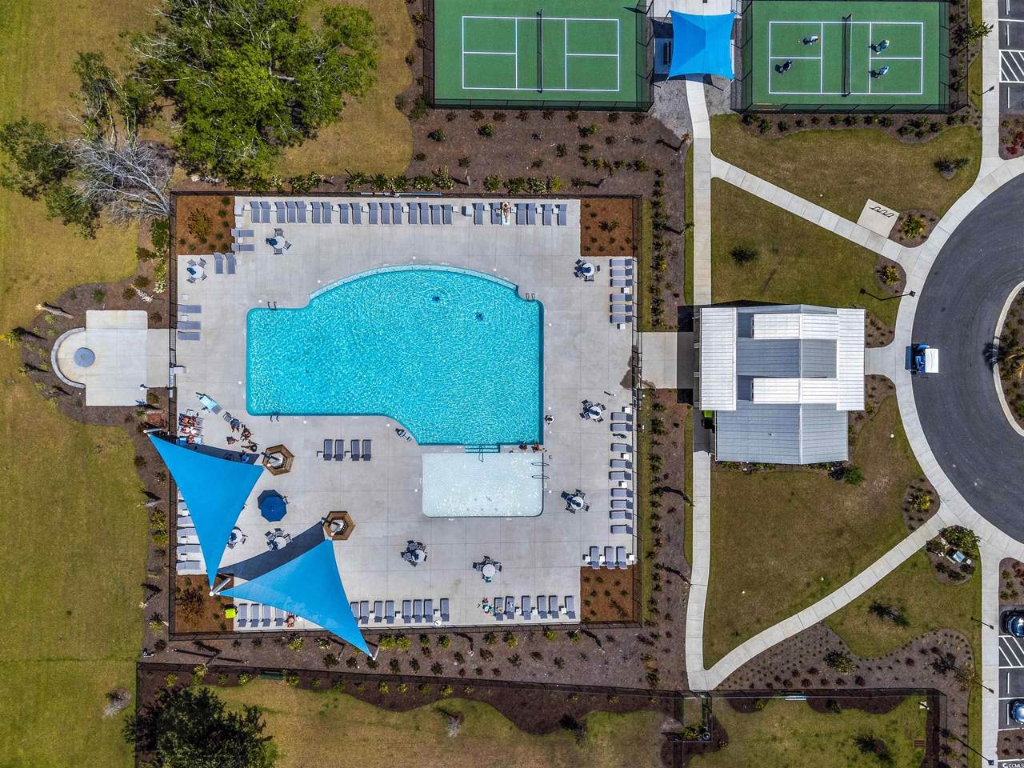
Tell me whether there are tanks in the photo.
No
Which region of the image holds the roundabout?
right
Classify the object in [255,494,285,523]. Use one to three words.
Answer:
umbrella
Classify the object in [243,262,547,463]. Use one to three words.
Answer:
swimming pool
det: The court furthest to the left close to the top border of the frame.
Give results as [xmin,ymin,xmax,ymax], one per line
[434,0,647,110]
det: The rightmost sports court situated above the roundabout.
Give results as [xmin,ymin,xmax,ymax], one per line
[744,1,951,113]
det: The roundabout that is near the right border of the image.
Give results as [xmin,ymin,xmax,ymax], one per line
[912,172,1024,540]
